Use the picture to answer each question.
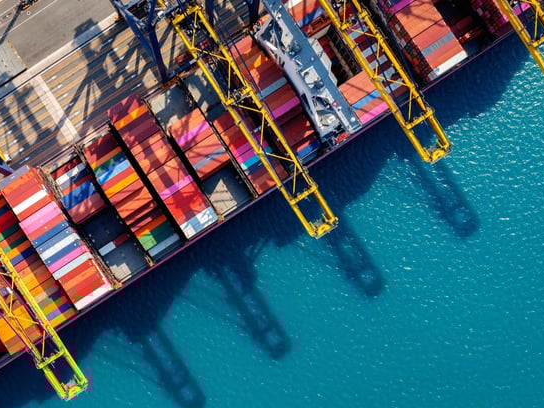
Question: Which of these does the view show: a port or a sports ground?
port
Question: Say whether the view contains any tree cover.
No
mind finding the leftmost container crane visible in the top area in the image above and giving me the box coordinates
[104,0,338,239]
